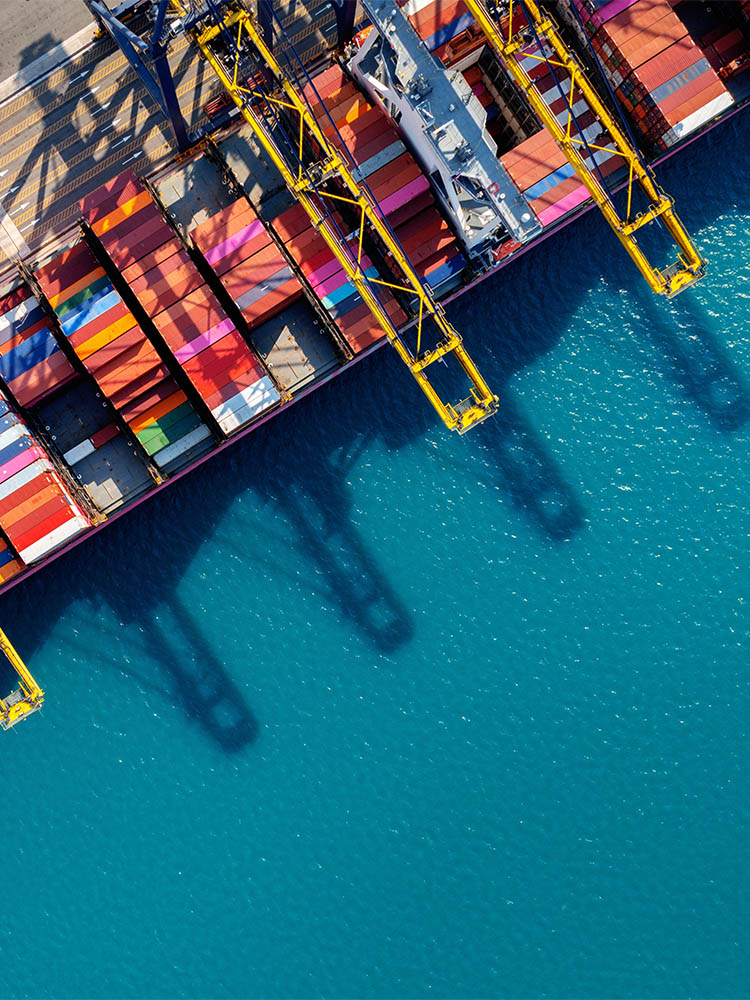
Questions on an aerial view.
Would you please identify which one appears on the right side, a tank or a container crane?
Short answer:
container crane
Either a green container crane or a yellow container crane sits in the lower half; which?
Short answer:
yellow container crane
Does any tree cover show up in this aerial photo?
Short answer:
No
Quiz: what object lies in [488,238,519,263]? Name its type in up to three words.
boat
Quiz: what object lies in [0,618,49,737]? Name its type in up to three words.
container crane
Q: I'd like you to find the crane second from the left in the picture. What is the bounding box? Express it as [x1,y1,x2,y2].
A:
[85,0,505,440]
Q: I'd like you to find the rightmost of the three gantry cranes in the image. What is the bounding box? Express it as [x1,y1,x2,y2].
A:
[324,0,715,307]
